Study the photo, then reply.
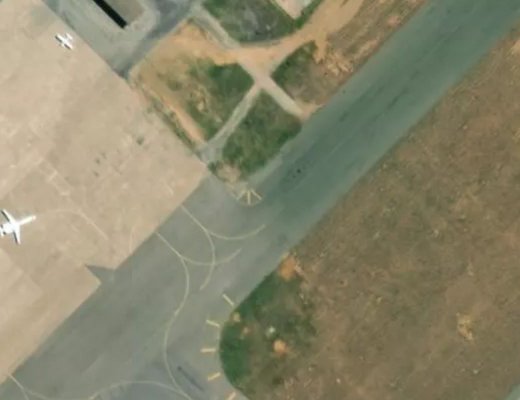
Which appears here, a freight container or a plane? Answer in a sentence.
Looking from above, you can make out a plane.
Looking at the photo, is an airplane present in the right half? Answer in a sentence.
No, I can find no airplane in the right half.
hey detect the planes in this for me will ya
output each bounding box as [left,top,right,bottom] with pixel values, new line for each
[56,32,73,49]
[0,210,36,245]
